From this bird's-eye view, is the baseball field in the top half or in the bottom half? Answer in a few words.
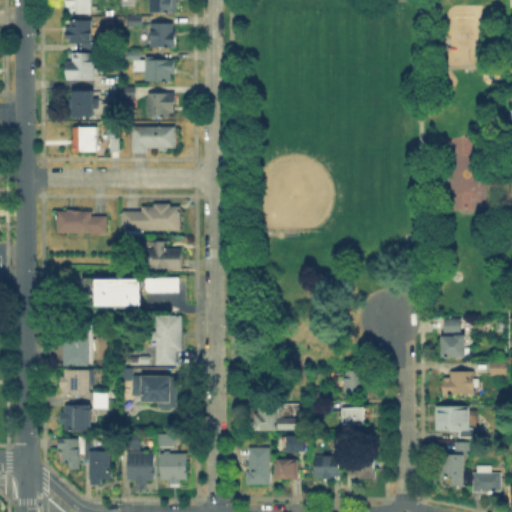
top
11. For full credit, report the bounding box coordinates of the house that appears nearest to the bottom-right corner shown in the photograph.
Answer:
[474,465,502,496]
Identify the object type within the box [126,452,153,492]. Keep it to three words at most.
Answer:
house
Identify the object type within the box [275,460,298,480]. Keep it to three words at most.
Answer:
house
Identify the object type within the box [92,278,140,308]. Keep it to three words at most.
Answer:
building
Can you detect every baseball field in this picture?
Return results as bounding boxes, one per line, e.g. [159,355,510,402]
[239,0,419,282]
